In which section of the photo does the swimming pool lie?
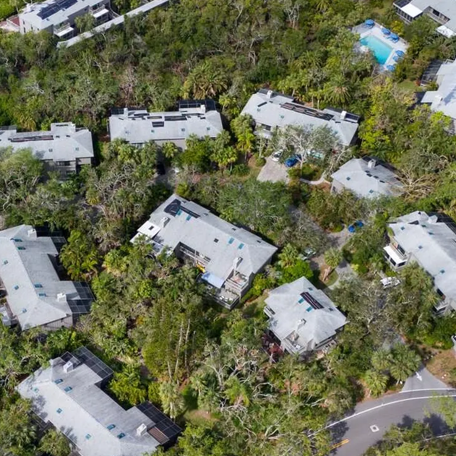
top right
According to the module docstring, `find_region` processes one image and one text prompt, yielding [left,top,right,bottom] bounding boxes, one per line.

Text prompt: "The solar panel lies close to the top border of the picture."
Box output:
[36,0,77,20]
